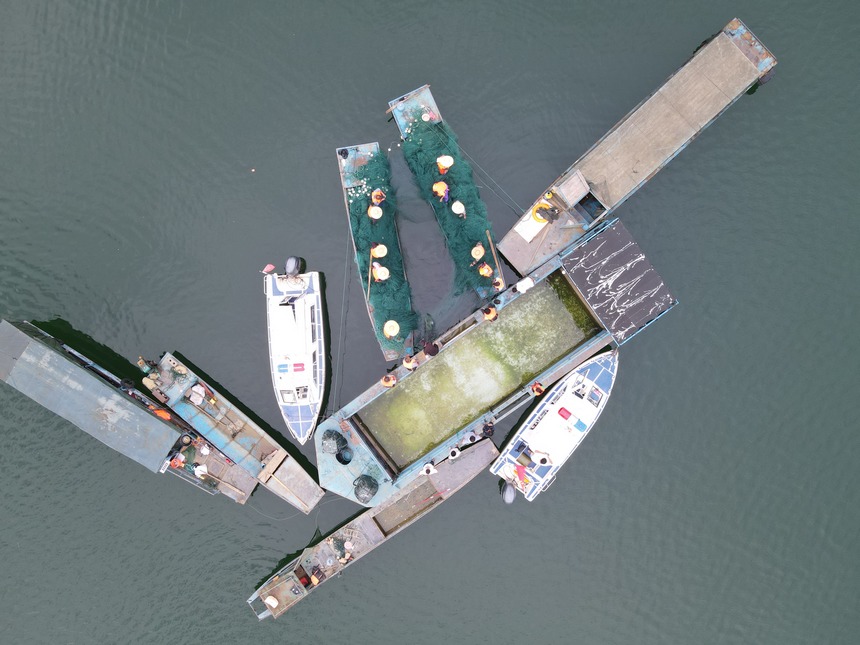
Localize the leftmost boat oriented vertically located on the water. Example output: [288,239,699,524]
[265,255,327,446]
